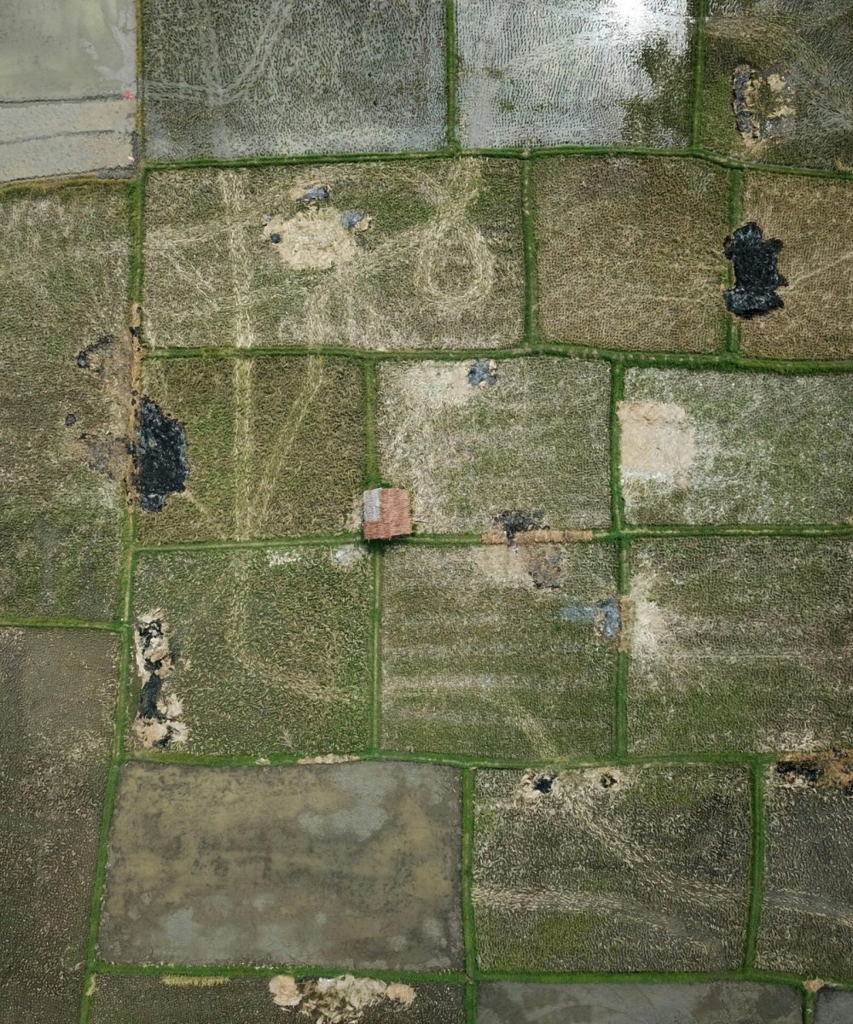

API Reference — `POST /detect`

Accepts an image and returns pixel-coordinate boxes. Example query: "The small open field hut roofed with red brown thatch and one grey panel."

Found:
[360,486,411,544]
